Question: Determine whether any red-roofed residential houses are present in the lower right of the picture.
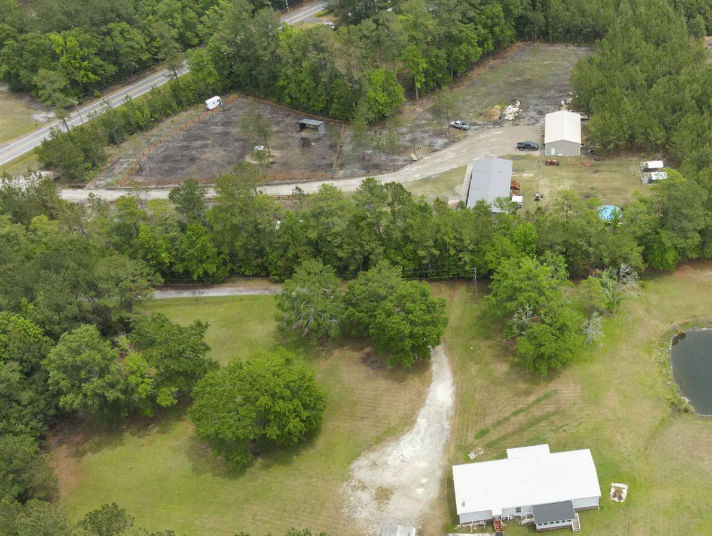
No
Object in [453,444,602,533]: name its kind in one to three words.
house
